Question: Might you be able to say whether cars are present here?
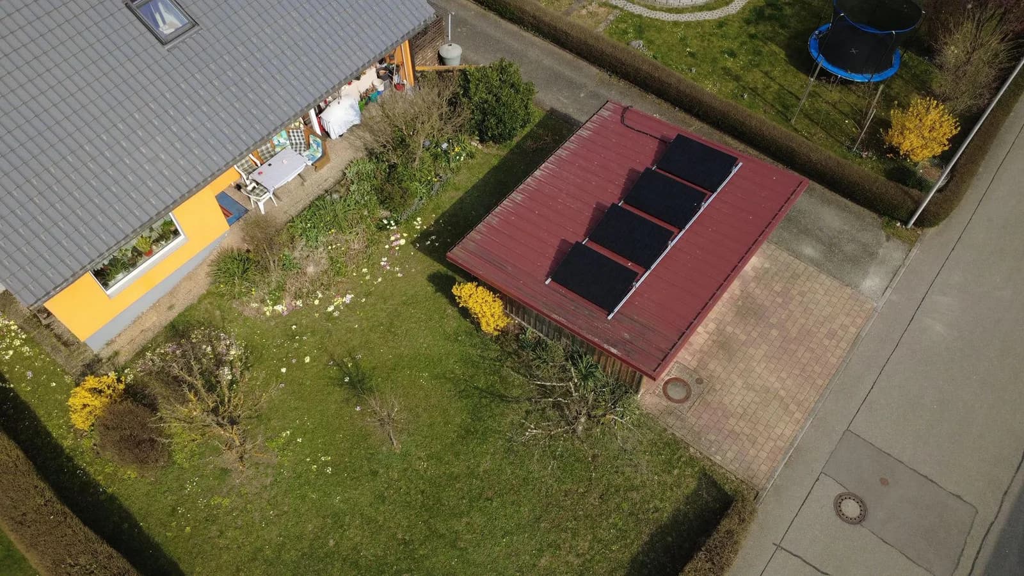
No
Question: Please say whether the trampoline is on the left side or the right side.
right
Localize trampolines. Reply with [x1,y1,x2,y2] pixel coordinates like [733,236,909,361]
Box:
[799,0,926,104]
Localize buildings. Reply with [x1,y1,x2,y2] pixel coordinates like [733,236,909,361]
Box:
[0,0,450,349]
[444,100,810,396]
